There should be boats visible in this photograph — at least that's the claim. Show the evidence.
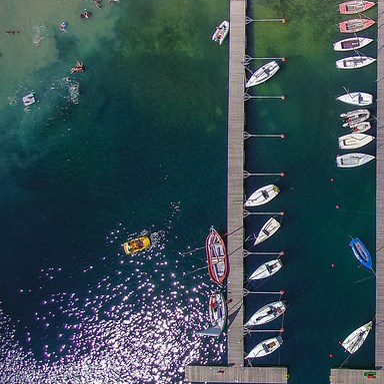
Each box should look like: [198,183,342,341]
[196,292,228,339]
[332,30,373,52]
[344,121,372,134]
[245,258,285,283]
[337,9,379,32]
[337,0,376,14]
[239,183,282,206]
[343,110,371,125]
[351,237,376,275]
[249,218,280,247]
[239,59,281,90]
[241,337,283,371]
[337,133,378,149]
[242,301,289,335]
[185,228,229,284]
[340,316,376,365]
[336,152,375,166]
[214,19,228,45]
[335,50,377,70]
[337,90,375,106]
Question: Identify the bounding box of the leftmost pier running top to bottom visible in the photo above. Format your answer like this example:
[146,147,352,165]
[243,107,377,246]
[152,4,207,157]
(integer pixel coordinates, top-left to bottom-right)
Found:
[227,0,248,367]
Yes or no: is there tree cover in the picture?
No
